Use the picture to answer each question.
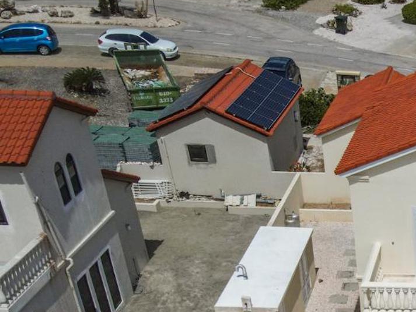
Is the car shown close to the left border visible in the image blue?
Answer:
Yes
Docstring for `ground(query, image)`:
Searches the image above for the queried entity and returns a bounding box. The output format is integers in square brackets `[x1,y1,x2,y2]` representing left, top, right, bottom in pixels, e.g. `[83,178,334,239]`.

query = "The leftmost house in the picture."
[0,86,149,312]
